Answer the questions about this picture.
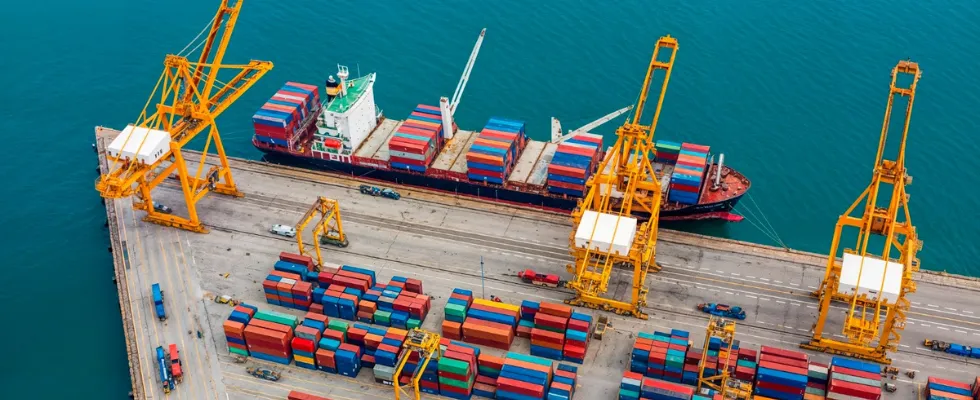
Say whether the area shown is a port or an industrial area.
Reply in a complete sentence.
The area seen from above is a port.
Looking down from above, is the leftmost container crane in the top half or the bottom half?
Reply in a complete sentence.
You can find the leftmost container crane in the top half.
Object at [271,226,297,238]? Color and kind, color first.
white vehicle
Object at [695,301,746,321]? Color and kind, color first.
blue vehicle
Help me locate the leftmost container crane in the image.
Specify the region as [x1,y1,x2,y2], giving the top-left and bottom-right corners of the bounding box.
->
[96,0,266,225]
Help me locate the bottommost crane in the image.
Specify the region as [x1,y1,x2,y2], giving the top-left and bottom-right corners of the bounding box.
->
[724,375,753,400]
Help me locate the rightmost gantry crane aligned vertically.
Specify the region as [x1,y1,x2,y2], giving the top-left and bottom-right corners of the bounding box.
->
[798,59,924,356]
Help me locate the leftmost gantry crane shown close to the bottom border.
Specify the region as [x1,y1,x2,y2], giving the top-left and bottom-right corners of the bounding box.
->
[396,321,447,400]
